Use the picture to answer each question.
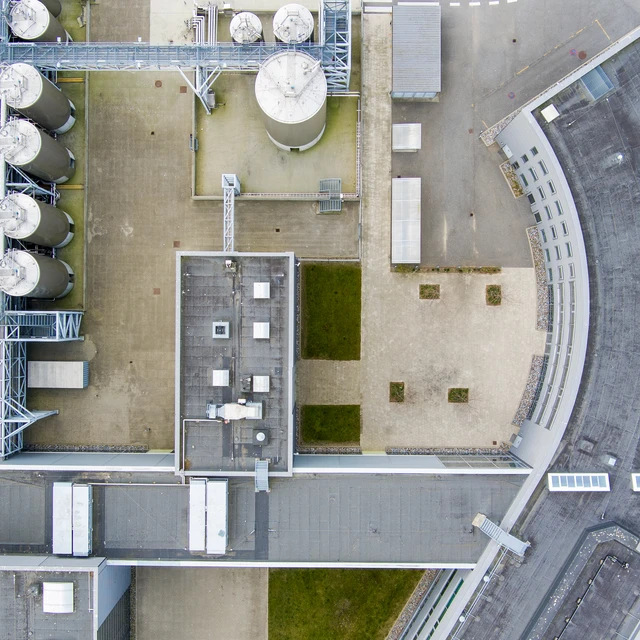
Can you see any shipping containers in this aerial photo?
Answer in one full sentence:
Yes, the image includes a shipping container.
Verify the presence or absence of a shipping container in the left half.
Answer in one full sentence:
Yes, in the left half there is a shipping container.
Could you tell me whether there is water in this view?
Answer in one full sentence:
No, no water is visible.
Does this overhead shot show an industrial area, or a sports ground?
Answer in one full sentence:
This looks like an industrial area.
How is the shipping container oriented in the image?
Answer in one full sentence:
In this picture, the shipping container lies from side to side.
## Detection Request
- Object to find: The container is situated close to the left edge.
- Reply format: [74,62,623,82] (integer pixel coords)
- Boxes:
[28,360,91,388]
